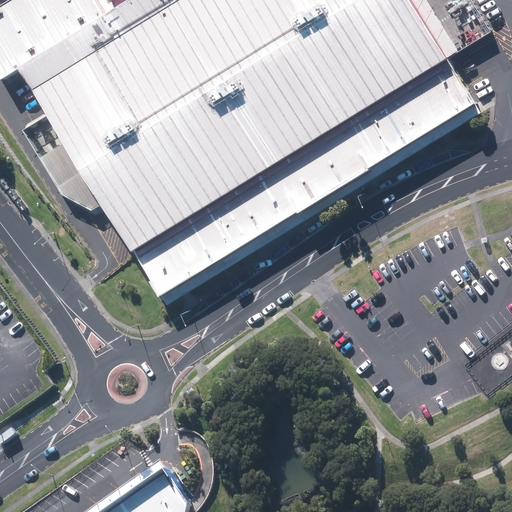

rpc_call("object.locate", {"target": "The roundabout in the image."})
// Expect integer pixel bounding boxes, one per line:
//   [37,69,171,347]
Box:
[108,364,146,404]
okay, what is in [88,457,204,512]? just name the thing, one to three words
building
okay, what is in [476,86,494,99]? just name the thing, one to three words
vehicle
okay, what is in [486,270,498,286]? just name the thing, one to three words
vehicle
